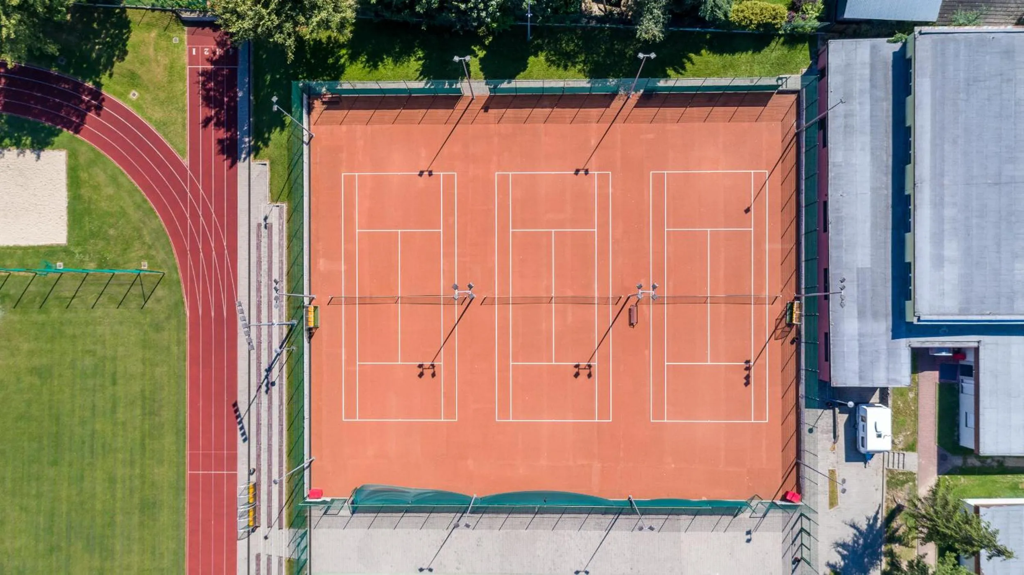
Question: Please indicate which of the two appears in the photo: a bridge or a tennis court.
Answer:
tennis court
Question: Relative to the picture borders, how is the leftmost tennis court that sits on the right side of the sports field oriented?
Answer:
up and down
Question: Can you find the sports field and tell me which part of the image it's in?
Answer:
bottom left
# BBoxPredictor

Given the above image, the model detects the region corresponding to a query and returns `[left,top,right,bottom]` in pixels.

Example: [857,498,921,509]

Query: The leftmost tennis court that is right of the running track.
[338,169,460,425]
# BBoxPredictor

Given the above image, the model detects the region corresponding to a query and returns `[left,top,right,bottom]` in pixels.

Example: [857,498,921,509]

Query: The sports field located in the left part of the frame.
[0,273,186,575]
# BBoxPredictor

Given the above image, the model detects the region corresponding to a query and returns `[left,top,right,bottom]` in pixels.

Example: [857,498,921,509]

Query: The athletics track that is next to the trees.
[0,21,238,575]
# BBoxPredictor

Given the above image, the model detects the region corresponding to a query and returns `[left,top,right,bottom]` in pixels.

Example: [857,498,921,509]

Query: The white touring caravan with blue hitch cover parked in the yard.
[855,400,891,463]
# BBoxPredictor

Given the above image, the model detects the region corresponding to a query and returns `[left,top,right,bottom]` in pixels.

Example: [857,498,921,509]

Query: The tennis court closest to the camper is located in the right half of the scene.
[646,166,772,426]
